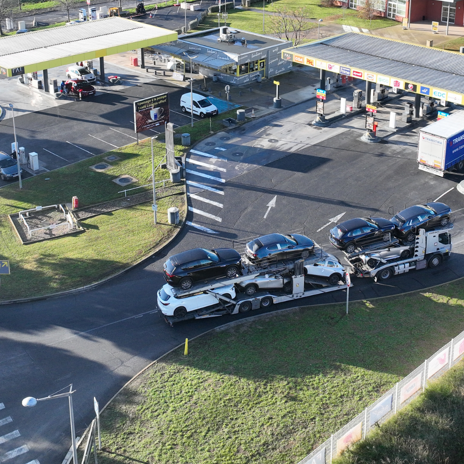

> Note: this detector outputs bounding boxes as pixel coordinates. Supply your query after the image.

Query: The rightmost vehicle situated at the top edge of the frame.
[133,0,151,13]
